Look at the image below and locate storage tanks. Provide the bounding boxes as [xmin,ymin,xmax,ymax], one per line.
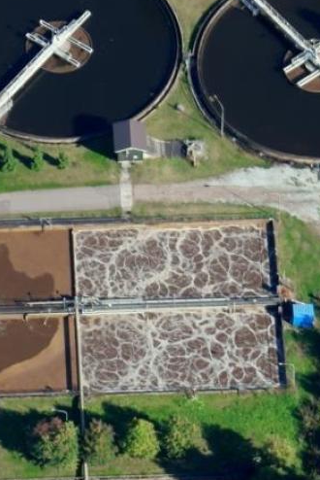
[193,0,320,165]
[0,0,181,145]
